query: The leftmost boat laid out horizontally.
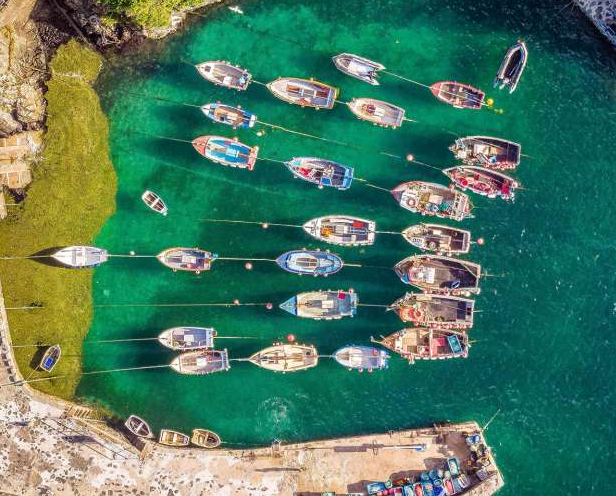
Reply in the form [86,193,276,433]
[50,245,108,269]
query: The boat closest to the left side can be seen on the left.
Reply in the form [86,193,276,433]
[37,345,61,374]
